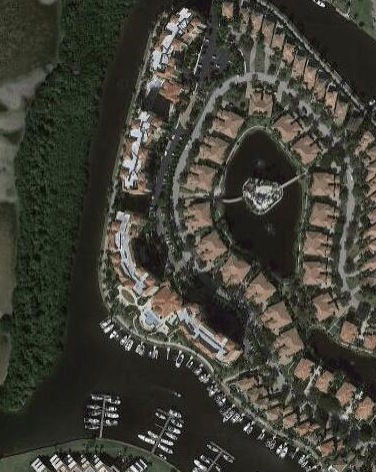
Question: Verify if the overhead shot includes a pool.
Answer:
Yes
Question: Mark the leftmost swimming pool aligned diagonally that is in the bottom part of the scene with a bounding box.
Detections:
[120,287,173,335]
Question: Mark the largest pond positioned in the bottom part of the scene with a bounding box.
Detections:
[137,236,246,349]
